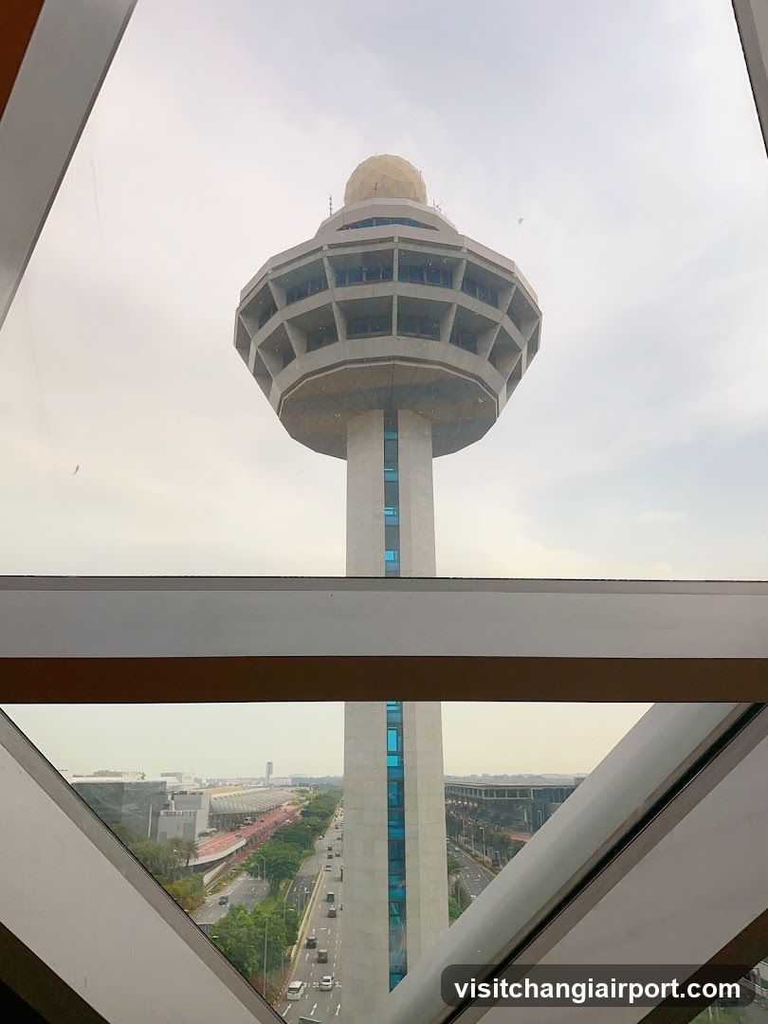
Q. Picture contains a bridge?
Yes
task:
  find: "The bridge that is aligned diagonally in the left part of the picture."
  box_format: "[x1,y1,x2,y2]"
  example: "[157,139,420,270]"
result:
[184,801,315,883]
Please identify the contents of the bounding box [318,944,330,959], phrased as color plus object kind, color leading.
gray vehicle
